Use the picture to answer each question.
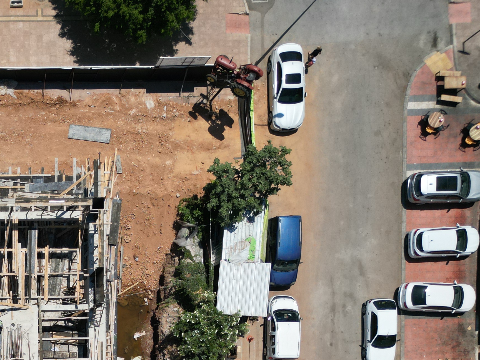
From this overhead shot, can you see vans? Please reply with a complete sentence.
Yes, this view includes a van.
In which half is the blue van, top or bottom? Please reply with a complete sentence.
The blue van is in the bottom half of the image.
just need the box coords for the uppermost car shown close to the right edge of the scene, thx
[401,165,480,208]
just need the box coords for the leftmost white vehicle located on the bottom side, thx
[262,295,307,360]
